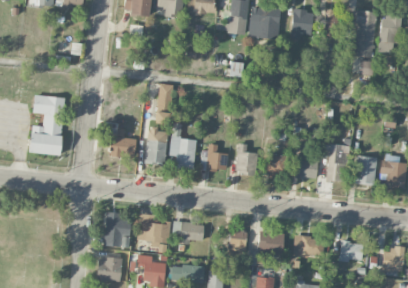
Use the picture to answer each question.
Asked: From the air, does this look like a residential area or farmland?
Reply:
residential area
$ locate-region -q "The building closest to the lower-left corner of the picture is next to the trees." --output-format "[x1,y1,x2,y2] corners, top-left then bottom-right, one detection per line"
[98,255,124,283]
